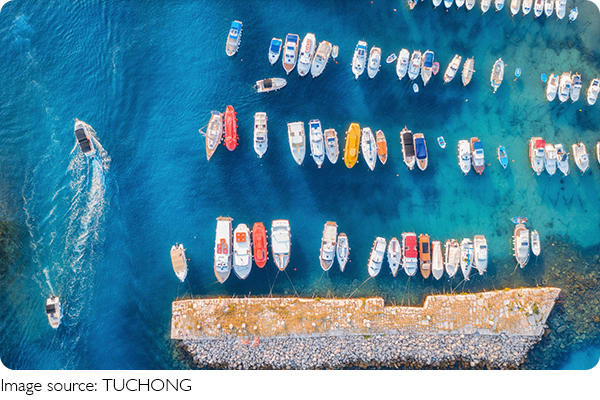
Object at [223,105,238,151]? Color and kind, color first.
red boat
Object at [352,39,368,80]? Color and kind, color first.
white boat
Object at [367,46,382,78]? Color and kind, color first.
white boat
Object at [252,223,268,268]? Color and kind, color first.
red boat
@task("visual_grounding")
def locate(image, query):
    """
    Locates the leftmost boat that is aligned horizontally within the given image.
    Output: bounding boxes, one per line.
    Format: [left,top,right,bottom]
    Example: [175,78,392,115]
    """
[254,78,287,93]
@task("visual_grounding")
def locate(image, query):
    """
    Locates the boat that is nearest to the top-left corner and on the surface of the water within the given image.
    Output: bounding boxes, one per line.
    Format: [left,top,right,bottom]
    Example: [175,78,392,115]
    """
[73,117,96,159]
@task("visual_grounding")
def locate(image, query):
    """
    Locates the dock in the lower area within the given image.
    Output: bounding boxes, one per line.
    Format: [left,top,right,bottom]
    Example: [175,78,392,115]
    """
[171,286,560,339]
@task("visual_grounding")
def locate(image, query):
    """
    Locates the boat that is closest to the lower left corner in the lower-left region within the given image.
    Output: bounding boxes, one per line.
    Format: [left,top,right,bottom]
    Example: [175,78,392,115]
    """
[46,295,62,329]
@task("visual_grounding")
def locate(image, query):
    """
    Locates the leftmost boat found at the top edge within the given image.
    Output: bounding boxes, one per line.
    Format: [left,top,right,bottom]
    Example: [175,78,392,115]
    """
[226,19,243,56]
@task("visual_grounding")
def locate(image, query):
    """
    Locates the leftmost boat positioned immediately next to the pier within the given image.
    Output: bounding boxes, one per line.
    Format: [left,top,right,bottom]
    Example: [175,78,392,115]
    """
[171,245,188,283]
